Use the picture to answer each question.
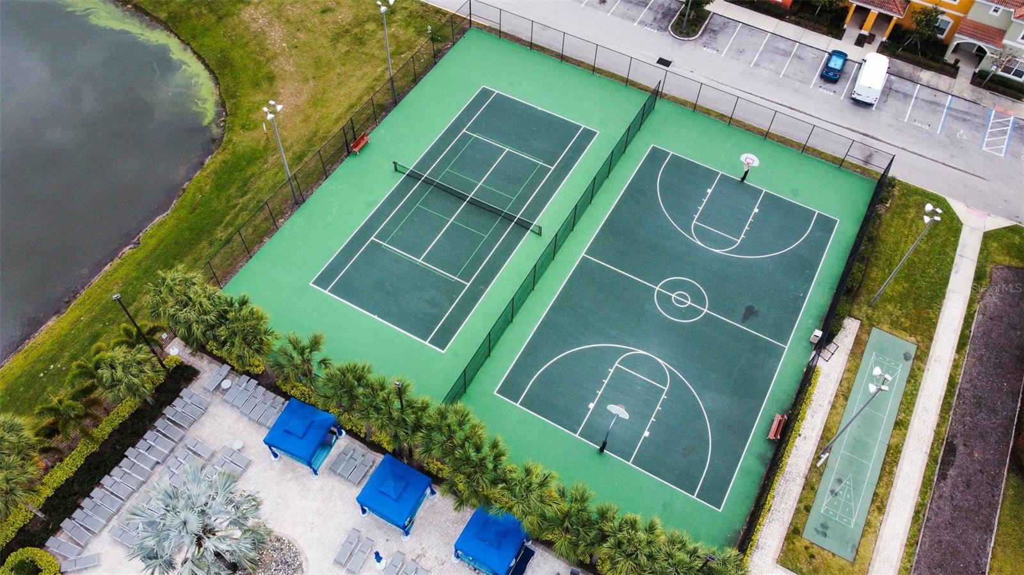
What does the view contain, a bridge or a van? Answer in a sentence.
Visible in the photo is a van.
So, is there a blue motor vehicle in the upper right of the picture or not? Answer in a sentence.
Yes, in the upper right of the picture there is a blue motor vehicle.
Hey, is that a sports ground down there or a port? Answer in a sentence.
It's a sports ground.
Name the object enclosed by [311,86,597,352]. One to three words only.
tennis court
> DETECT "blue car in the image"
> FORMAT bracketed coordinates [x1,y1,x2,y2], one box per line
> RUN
[819,51,850,83]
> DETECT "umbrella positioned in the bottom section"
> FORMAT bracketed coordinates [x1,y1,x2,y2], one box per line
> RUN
[374,555,388,574]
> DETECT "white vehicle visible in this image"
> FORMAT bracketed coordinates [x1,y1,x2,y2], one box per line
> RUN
[849,55,894,106]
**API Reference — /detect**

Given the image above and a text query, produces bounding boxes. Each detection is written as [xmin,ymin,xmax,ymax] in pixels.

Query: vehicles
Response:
[819,51,850,83]
[849,55,894,106]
